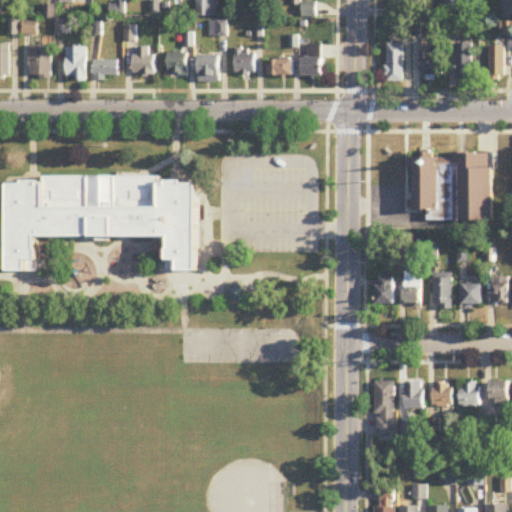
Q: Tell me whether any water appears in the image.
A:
No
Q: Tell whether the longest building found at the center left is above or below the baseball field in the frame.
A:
above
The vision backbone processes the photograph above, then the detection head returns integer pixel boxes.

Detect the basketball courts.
[184,328,300,363]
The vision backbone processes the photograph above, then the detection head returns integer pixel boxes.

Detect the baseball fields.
[0,332,322,512]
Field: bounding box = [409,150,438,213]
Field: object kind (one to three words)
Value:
building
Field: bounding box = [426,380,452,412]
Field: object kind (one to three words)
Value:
house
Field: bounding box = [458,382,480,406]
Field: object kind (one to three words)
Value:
house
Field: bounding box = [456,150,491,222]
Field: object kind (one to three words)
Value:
building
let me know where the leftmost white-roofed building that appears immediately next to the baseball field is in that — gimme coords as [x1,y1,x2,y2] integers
[2,174,202,272]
